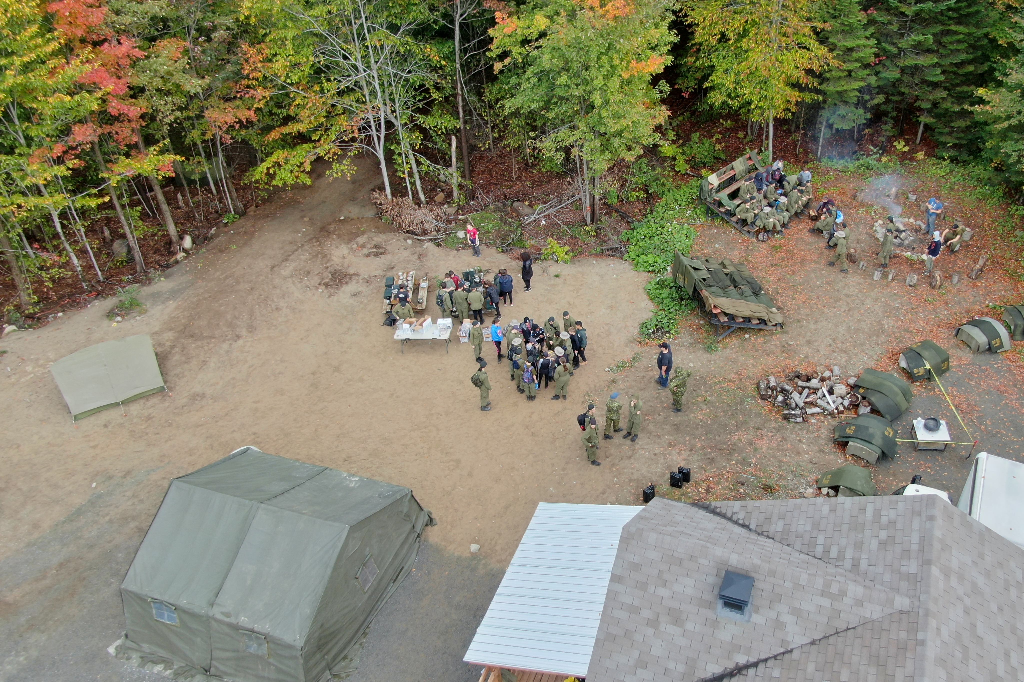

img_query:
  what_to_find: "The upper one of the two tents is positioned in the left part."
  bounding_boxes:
[53,334,172,424]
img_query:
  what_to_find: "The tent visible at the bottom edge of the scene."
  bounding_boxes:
[120,439,448,682]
